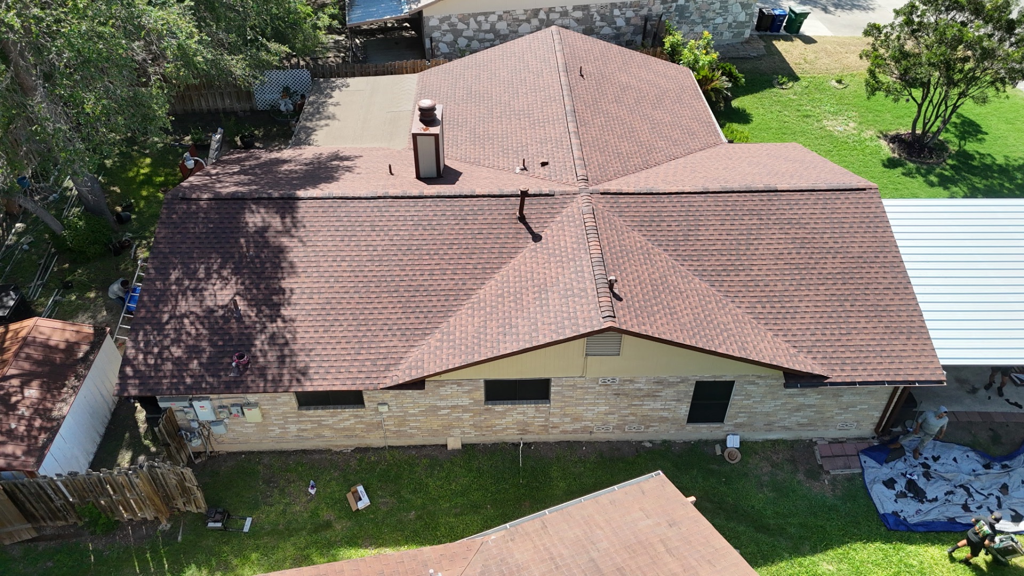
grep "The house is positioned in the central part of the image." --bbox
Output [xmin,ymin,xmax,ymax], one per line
[118,26,952,452]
